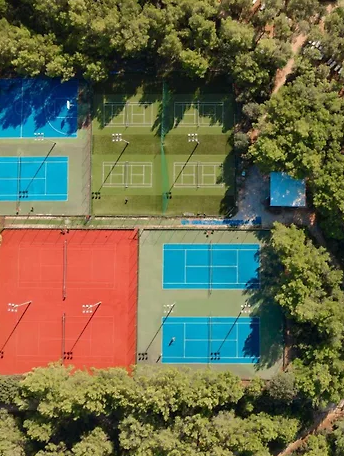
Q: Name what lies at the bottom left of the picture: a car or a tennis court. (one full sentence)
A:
The feature located at the bottom left of the picture is a tennis court.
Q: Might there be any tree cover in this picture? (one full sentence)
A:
Yes, some tree cover is visible.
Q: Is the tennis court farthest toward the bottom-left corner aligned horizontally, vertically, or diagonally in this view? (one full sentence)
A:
The tennis court farthest toward the bottom-left corner runs horizontally in the image.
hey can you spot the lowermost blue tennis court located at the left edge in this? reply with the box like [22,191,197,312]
[0,153,68,204]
